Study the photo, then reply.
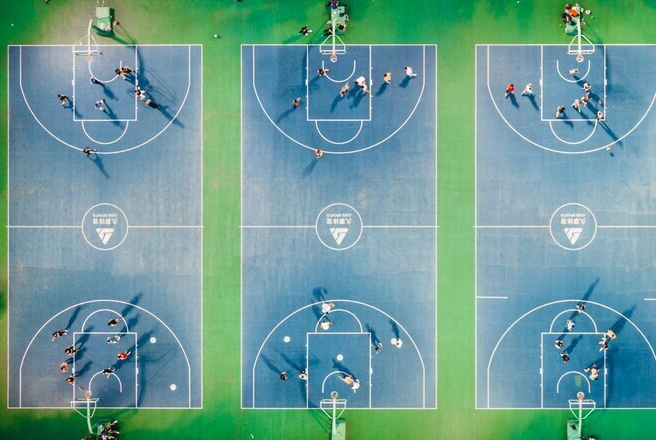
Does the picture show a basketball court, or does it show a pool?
basketball court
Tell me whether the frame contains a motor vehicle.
No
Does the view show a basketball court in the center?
Yes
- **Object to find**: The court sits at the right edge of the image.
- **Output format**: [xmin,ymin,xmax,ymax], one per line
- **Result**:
[476,45,656,409]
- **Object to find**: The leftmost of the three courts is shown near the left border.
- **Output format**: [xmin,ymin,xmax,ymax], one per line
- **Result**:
[7,45,203,409]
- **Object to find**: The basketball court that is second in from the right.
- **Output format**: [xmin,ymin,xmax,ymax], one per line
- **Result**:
[241,45,437,409]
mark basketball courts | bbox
[476,45,656,409]
[7,45,203,409]
[241,45,437,409]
